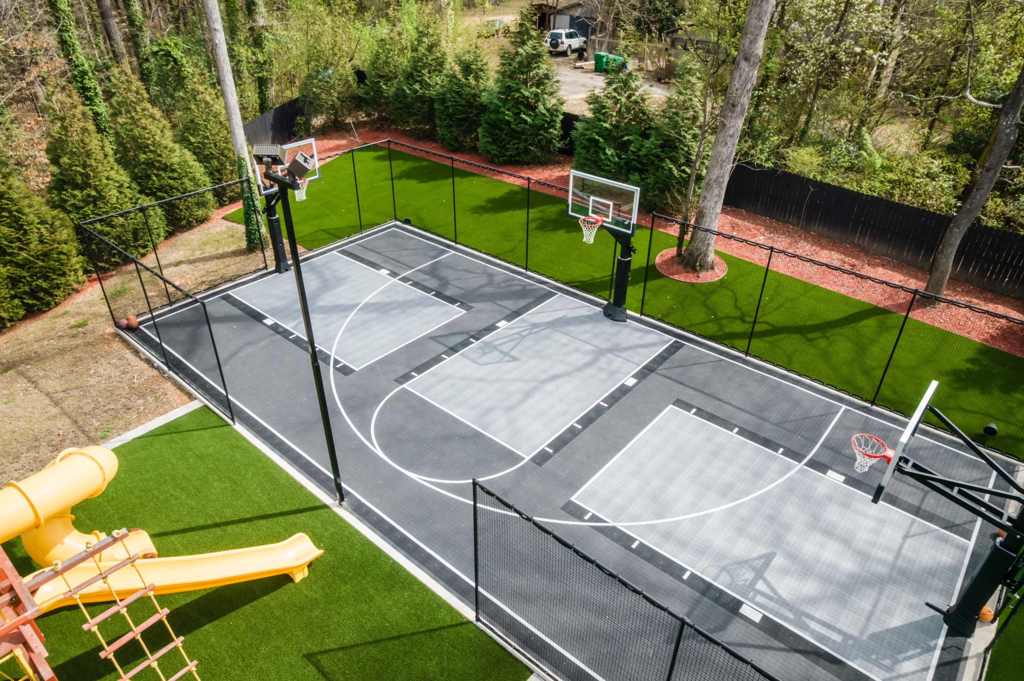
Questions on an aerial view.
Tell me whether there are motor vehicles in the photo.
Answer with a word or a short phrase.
Yes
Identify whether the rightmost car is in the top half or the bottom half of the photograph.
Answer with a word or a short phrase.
top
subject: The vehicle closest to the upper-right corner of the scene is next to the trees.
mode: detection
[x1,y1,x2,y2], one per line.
[544,26,588,56]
